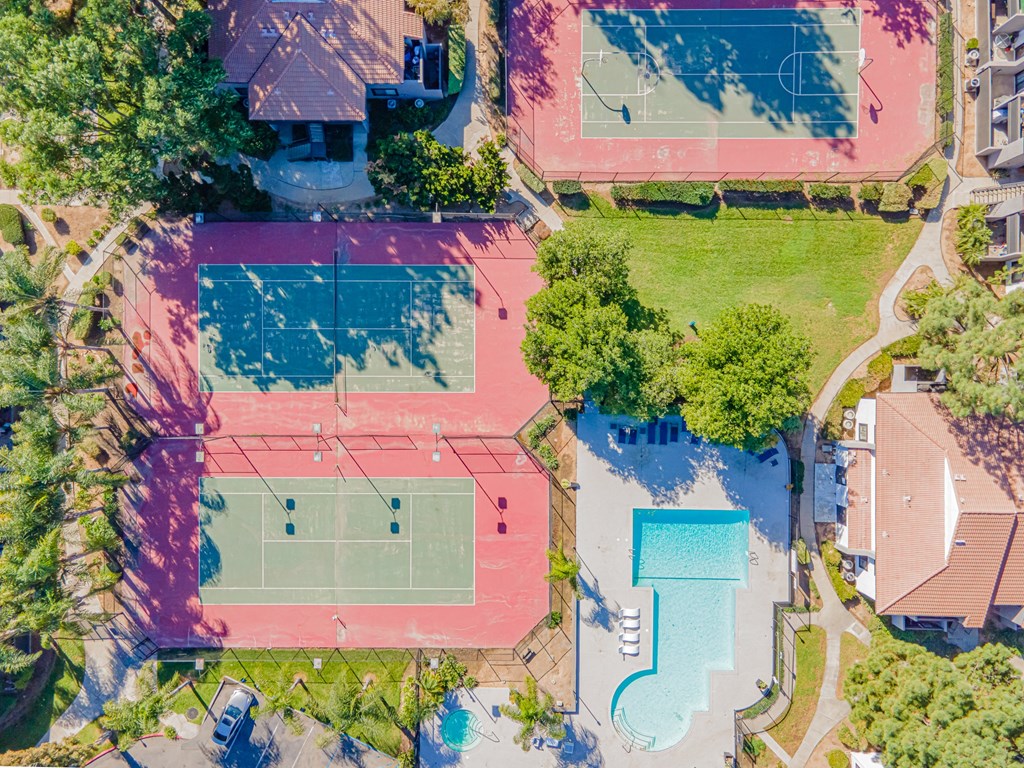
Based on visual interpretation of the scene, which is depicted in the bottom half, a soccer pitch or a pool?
pool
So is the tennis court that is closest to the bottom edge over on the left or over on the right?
left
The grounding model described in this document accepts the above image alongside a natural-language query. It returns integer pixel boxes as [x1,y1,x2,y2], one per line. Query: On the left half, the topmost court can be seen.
[123,222,551,437]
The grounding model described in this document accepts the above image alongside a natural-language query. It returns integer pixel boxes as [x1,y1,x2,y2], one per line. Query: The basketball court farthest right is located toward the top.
[508,0,937,180]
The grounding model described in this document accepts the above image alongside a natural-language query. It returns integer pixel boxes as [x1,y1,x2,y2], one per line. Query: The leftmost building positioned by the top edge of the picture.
[208,0,438,162]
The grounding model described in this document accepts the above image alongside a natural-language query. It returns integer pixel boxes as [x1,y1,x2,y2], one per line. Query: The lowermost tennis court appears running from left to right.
[121,436,550,648]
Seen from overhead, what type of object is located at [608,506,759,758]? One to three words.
swimming pool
